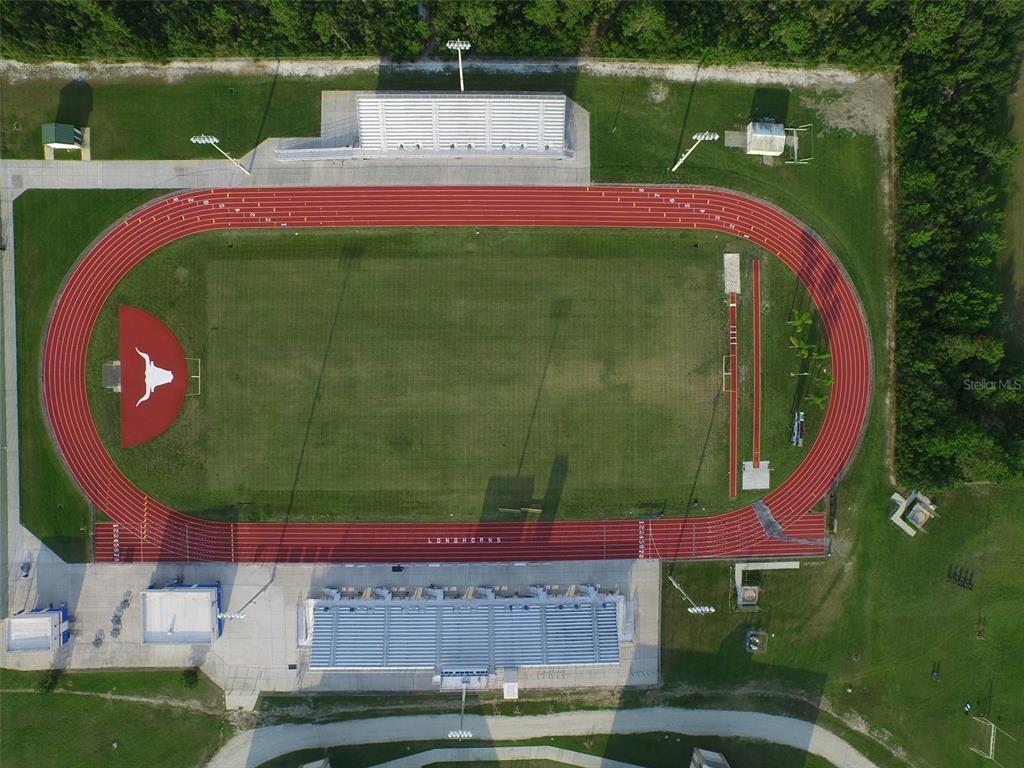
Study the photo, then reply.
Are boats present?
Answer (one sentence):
No, the frame has no boat in it.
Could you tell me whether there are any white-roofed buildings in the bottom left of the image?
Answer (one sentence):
Yes, you'll find a white-roofed building in the bottom left of the image.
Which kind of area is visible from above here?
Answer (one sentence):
This looks like a sports ground.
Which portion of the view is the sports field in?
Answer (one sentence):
The sports field is in the center part of the image.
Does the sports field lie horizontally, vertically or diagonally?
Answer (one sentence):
The sports field runs horizontally in the image.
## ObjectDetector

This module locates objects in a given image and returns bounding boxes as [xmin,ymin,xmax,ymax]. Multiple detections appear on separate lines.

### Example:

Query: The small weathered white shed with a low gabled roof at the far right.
[747,120,786,155]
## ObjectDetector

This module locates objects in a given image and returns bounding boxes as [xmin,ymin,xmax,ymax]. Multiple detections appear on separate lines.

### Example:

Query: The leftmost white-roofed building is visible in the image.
[7,608,72,652]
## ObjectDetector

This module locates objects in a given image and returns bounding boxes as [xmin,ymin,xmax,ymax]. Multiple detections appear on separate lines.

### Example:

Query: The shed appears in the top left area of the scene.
[43,121,81,148]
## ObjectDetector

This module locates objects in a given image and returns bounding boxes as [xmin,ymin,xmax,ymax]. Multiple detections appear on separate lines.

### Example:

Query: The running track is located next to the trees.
[42,183,873,687]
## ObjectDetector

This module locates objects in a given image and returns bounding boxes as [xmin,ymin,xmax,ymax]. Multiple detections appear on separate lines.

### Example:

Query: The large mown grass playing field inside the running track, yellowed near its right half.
[206,259,706,490]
